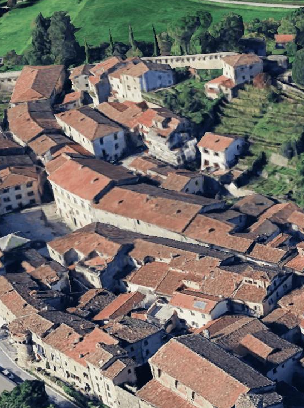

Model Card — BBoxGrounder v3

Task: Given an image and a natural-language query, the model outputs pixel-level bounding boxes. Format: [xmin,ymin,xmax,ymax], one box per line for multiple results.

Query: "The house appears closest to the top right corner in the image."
[276,34,296,50]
